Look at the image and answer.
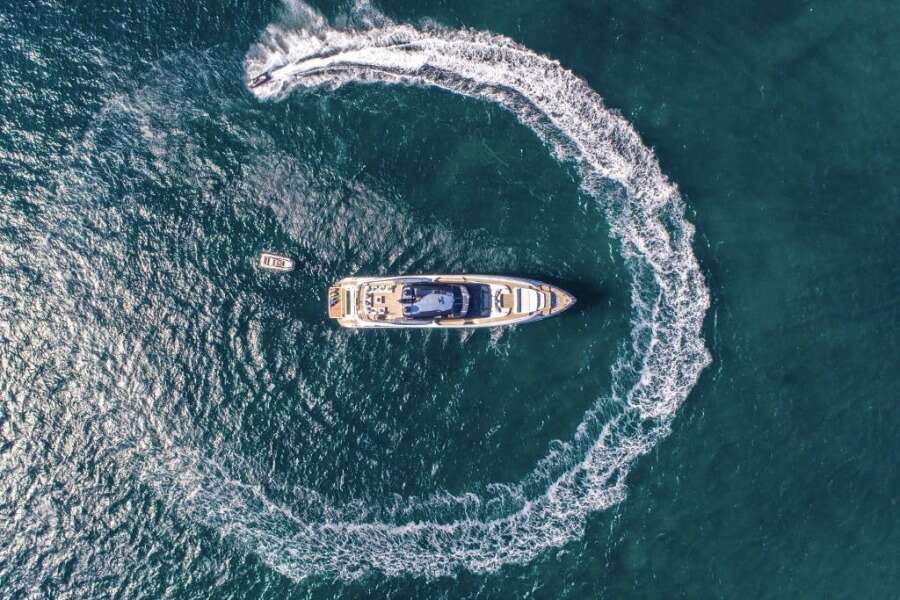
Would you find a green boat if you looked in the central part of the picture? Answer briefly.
No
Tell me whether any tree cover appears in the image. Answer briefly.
No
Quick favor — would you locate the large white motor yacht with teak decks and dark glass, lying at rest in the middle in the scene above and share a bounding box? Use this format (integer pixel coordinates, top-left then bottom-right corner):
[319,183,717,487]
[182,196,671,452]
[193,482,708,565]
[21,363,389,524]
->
[329,275,577,328]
